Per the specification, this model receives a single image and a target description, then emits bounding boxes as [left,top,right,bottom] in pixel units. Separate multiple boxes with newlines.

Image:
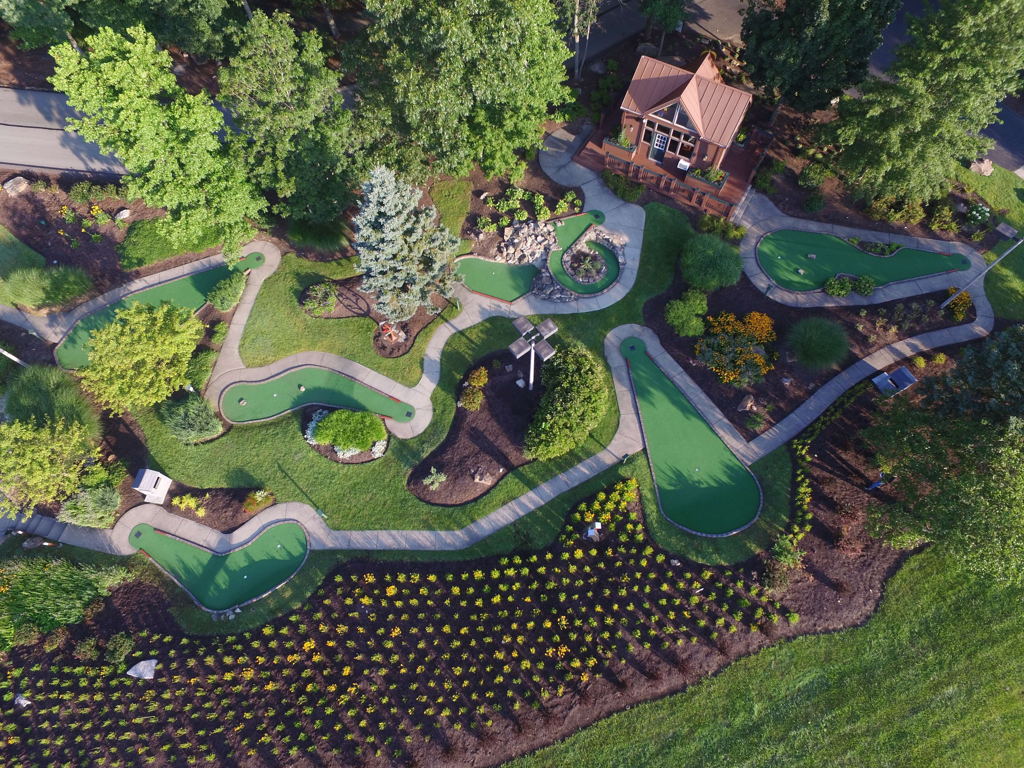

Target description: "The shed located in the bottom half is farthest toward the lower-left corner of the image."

[125,468,172,507]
